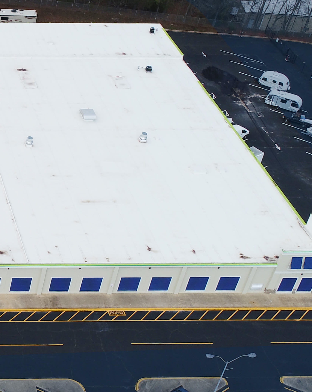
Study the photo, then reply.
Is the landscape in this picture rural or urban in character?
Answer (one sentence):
The land in this view is best described as urban.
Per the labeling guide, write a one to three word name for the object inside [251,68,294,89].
vehicle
